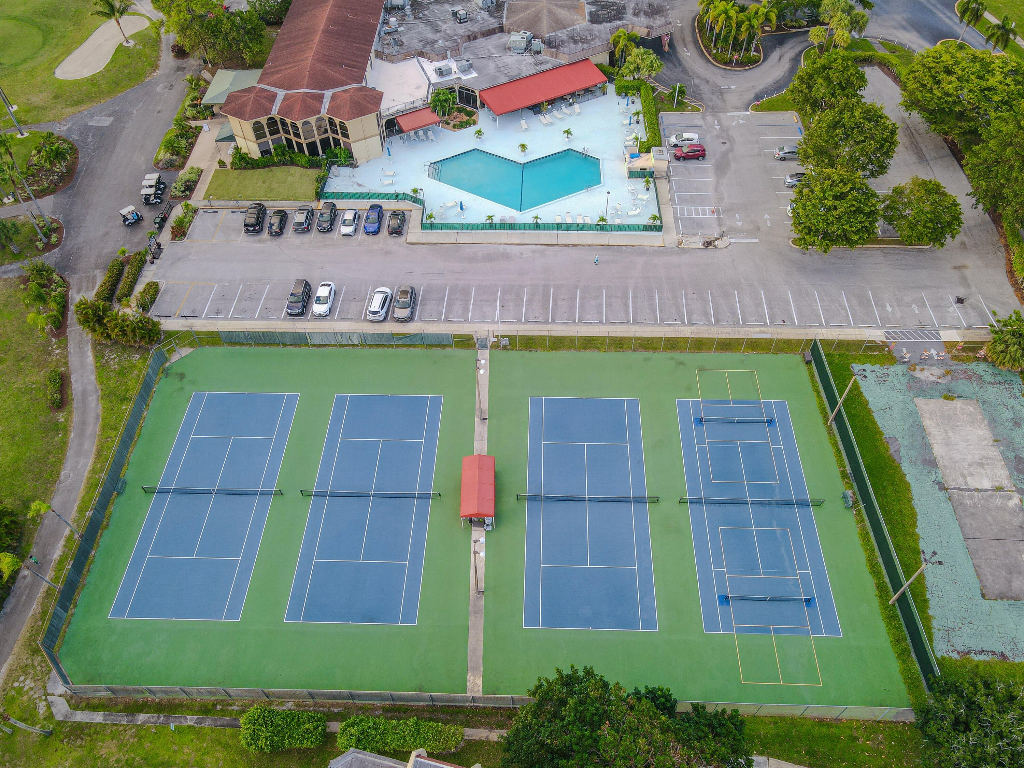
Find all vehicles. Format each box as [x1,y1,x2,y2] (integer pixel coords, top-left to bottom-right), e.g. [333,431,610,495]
[312,281,336,315]
[142,179,163,195]
[285,275,311,313]
[145,173,166,189]
[118,205,142,226]
[674,143,708,161]
[363,204,383,233]
[267,207,289,234]
[773,144,811,160]
[339,207,360,235]
[392,283,415,320]
[140,188,162,206]
[387,208,406,234]
[669,131,702,147]
[315,199,337,229]
[365,285,390,320]
[243,203,268,231]
[783,170,810,186]
[292,202,315,230]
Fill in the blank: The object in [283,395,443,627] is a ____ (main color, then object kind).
blue tennis court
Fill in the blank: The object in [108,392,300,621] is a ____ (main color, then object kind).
blue tennis court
